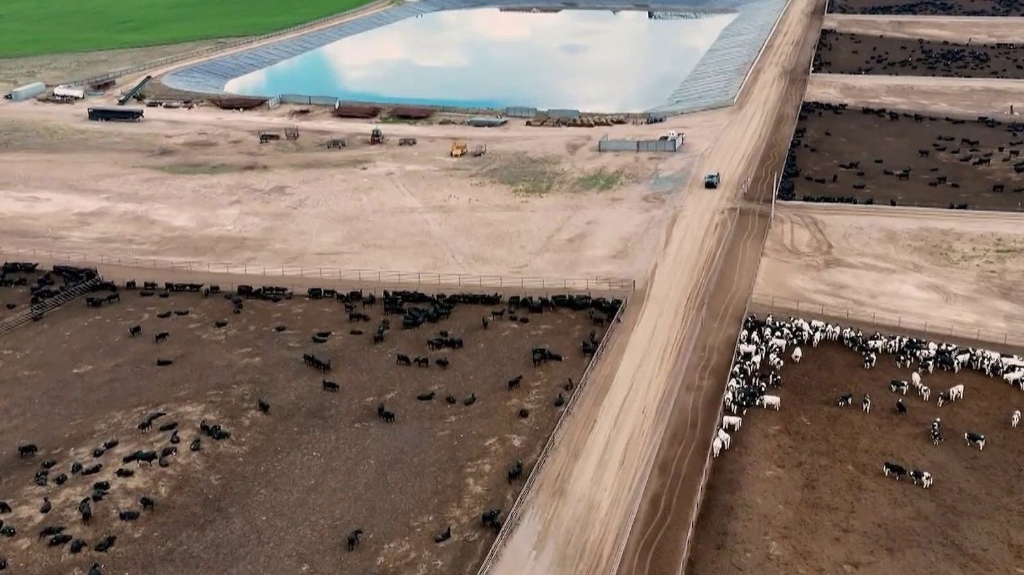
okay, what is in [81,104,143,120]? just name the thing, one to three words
trailer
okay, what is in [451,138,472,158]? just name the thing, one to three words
vehicle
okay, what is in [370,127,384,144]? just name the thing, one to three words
work vehicle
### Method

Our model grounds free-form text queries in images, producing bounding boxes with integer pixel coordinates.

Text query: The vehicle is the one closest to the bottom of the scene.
[705,171,720,188]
